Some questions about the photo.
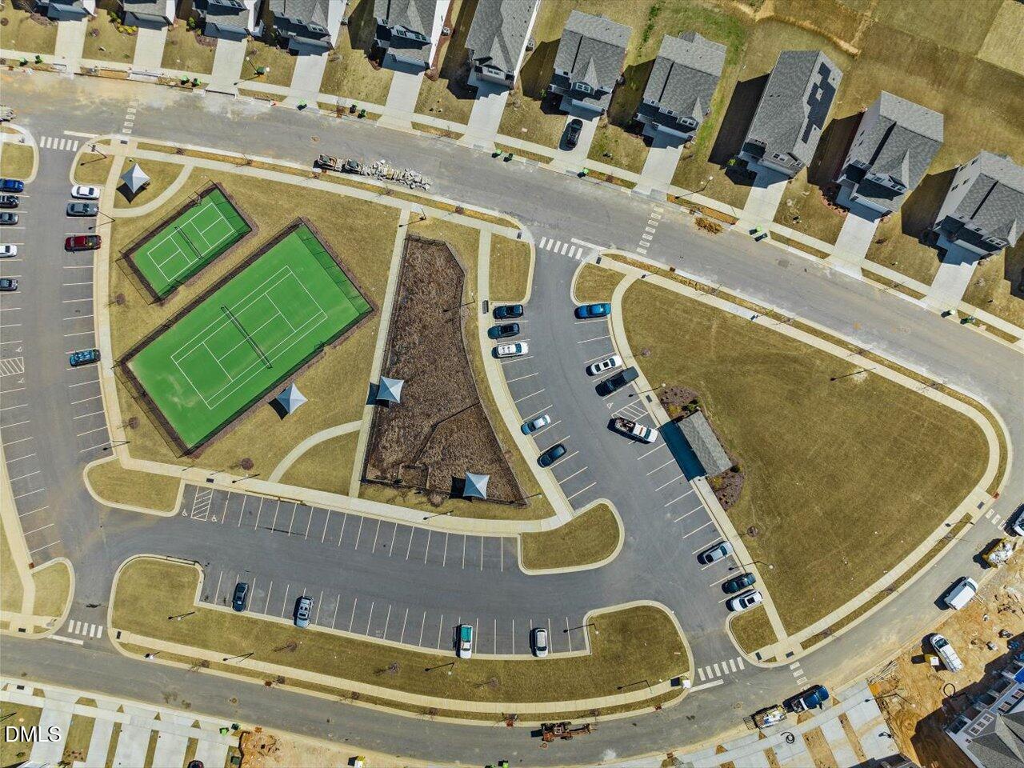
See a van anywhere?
Yes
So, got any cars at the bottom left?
Yes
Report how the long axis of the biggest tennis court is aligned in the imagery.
on a diagonal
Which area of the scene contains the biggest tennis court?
left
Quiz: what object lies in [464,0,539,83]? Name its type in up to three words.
house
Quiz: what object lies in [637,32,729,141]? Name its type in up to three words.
house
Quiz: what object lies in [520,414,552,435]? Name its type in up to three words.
car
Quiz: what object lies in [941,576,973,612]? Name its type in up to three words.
van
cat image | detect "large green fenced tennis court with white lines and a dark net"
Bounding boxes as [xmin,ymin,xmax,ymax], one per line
[126,223,372,449]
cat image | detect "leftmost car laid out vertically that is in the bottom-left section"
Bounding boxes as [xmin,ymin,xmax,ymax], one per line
[232,583,248,612]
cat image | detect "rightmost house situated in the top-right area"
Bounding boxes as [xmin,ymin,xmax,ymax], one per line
[933,149,1024,258]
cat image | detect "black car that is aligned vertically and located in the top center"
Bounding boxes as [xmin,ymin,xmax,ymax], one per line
[566,117,583,148]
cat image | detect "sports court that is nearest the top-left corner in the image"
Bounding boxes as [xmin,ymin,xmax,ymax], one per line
[130,186,250,300]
